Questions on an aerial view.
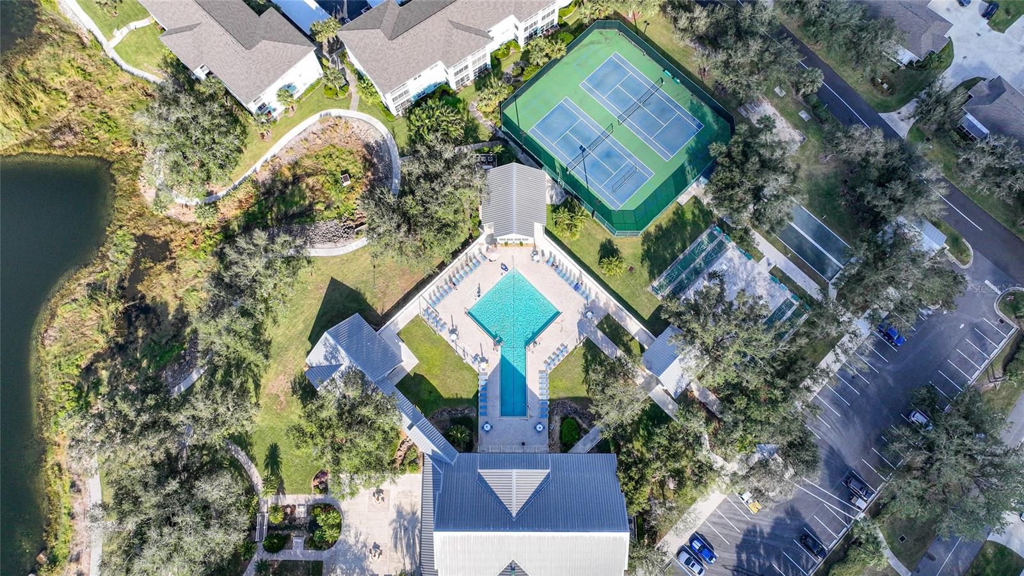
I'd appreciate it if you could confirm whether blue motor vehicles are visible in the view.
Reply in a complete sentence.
Yes, the picture does show a blue motor vehicle.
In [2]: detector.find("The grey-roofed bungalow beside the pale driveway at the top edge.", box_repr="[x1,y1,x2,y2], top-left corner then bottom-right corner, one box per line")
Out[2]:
[858,0,953,73]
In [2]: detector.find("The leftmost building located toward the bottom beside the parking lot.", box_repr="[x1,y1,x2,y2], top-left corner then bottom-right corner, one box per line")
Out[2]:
[416,453,629,576]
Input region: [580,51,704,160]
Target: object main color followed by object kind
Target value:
blue tennis court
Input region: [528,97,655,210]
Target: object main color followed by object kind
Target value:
blue tennis court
